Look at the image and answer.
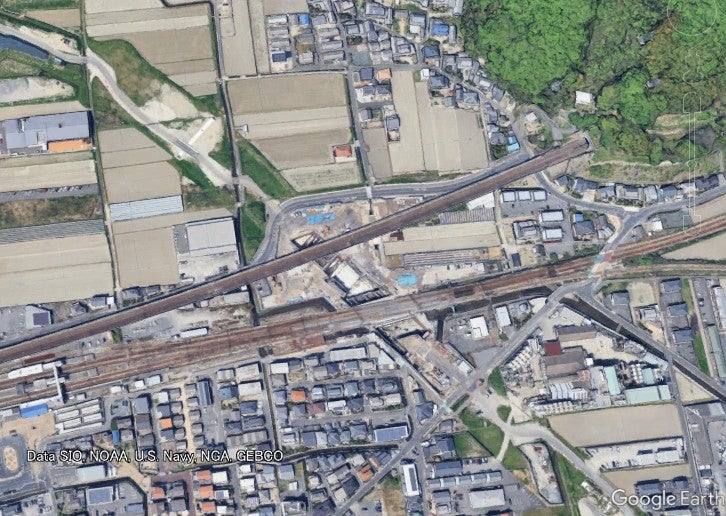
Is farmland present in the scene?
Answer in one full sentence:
Yes, farmland can be seen from above here.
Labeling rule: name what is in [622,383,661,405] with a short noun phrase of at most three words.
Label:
building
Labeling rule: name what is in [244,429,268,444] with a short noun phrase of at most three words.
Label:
house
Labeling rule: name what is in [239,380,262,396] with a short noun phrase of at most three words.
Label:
house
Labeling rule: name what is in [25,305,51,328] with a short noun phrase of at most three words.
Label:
building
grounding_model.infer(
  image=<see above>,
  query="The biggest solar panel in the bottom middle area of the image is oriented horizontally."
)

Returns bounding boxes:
[376,427,405,440]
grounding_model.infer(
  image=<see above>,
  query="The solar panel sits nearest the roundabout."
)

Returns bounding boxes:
[89,488,112,503]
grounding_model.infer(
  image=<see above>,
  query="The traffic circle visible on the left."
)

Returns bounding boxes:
[0,427,30,485]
